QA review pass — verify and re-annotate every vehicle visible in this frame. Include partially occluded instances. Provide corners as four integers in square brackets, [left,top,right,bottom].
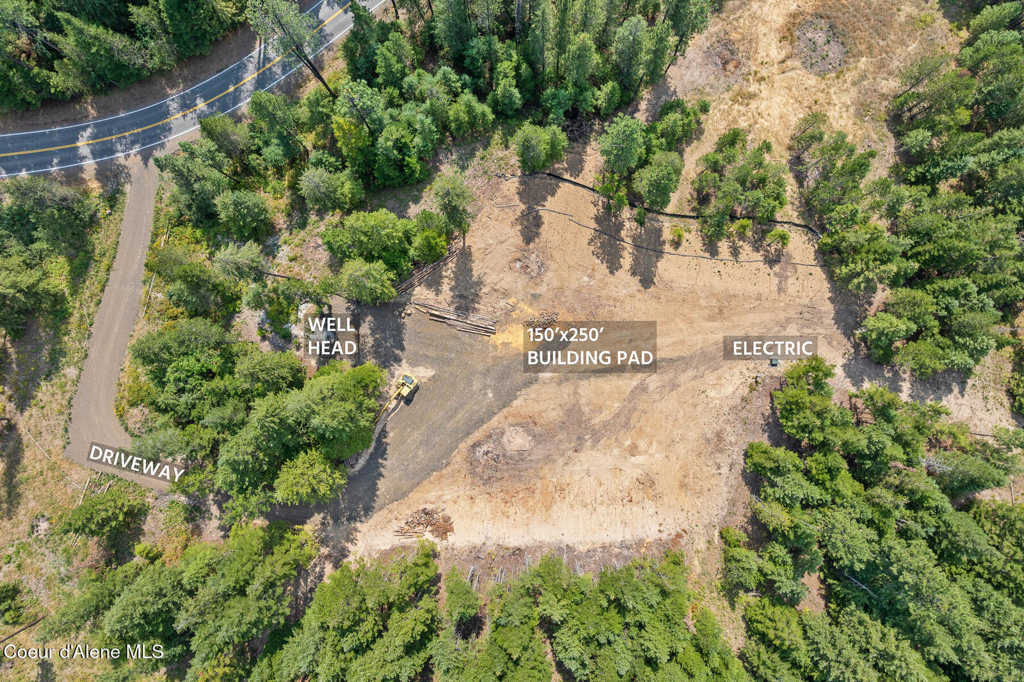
[375,373,421,427]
